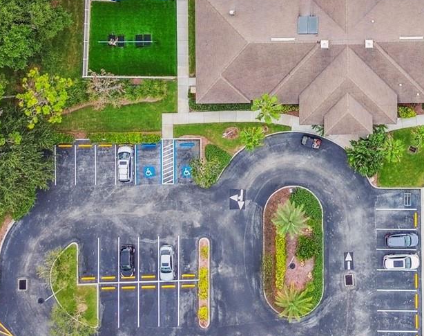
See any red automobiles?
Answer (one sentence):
No, there appears to be no red automobile in this shot.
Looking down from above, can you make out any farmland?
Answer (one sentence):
No, the scene doesn't show any farmland.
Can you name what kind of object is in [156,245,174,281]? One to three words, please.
car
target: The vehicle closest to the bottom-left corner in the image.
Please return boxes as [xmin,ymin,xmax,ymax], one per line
[117,244,134,278]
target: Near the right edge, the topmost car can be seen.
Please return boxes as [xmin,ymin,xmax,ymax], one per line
[385,234,418,252]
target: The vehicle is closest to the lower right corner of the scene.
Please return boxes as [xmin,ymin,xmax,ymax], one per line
[383,255,419,273]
